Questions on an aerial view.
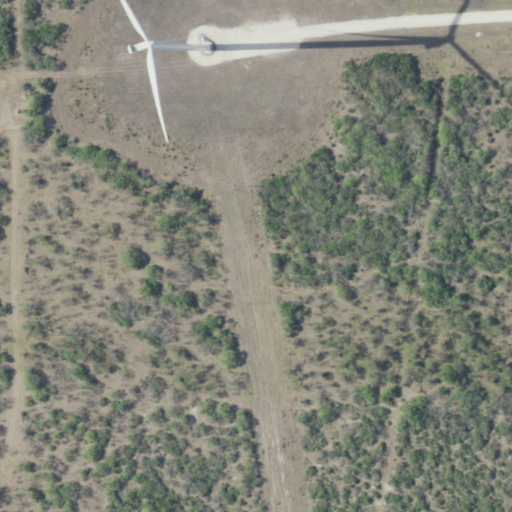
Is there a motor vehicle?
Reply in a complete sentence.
No, the picture doesn't show any motor vehicle.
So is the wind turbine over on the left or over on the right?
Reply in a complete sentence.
The wind turbine appears in the left half of the scene.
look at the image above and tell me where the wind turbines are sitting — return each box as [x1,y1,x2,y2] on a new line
[120,0,218,141]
